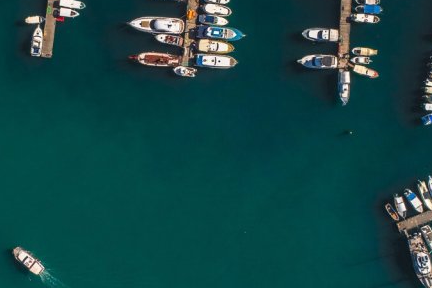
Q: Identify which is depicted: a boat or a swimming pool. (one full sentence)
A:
Visible in the photo is a boat.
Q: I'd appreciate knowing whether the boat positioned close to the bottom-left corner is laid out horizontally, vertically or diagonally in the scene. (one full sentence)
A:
The boat positioned close to the bottom-left corner runs diagonally in the image.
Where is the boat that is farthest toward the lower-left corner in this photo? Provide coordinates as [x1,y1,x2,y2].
[14,247,46,277]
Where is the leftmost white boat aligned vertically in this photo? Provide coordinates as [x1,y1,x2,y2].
[31,23,43,59]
